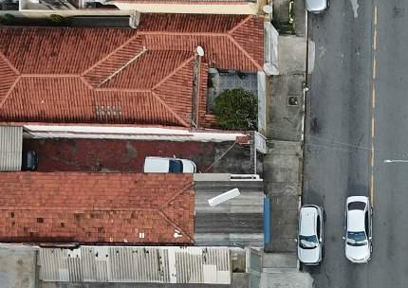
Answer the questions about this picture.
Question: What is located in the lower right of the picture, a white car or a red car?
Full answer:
You can see a white car in the lower right of the picture.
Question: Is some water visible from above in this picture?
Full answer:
No, no water is visible.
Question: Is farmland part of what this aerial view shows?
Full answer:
No, farmland can't be seen anywhere here.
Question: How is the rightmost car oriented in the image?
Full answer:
In this picture, the rightmost car is oriented from top to bottom.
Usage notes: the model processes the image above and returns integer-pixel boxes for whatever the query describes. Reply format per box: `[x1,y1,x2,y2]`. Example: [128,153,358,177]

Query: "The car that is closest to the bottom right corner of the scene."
[341,196,375,265]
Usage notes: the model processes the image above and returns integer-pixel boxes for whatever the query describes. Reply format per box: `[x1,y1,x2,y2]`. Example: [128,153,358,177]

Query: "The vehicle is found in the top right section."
[305,0,332,16]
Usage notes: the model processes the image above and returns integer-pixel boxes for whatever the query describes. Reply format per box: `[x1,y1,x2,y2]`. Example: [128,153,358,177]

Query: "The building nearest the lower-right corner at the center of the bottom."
[193,173,279,252]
